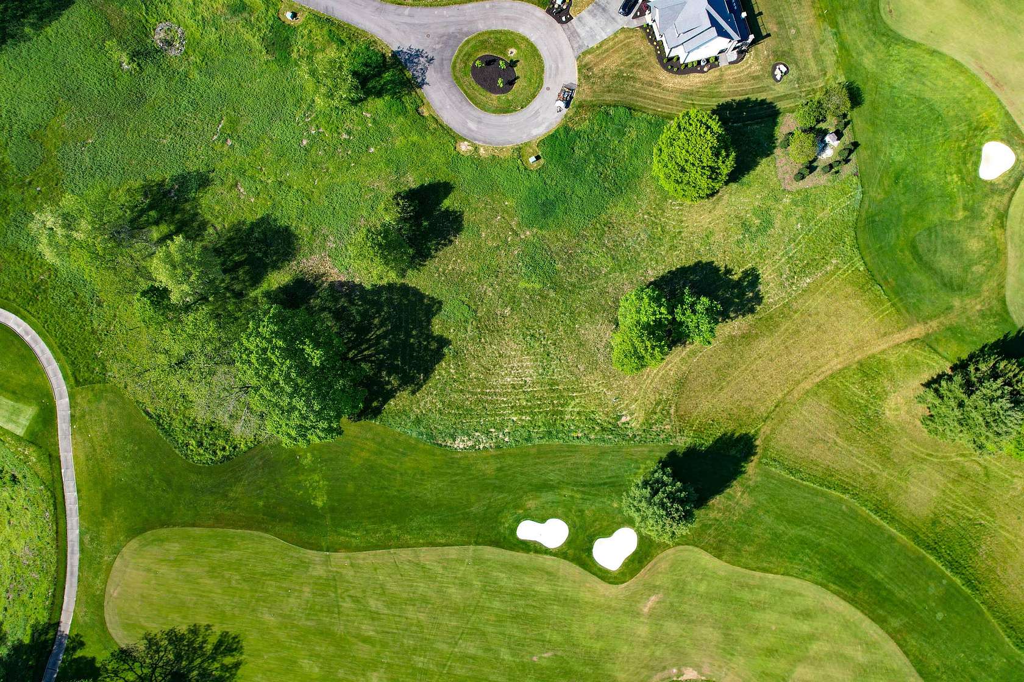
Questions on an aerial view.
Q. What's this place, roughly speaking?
golf course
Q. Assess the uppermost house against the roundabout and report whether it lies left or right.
on its right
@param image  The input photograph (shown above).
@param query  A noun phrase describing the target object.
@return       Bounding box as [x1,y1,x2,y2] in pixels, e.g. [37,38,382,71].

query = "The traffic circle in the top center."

[410,0,576,145]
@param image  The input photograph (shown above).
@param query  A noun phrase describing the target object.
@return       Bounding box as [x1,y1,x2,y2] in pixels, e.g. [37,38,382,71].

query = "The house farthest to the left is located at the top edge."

[641,0,758,63]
